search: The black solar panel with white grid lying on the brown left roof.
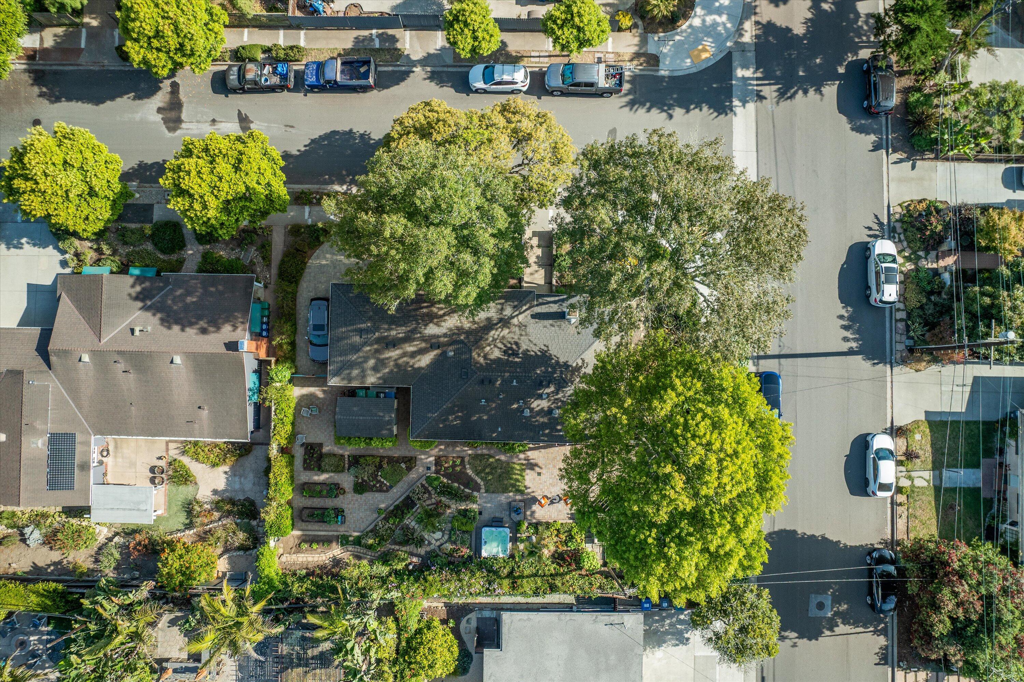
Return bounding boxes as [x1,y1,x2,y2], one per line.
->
[45,433,77,490]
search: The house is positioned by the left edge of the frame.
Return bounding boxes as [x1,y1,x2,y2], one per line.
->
[0,272,267,507]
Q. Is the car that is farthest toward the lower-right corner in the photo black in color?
Yes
